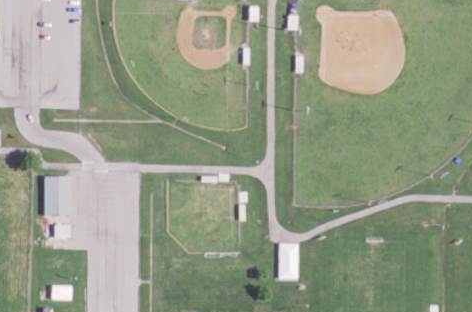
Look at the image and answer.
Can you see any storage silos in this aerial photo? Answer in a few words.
No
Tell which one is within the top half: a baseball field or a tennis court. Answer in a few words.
baseball field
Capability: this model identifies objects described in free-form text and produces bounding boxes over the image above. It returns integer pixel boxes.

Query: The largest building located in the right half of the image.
[276,242,299,282]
